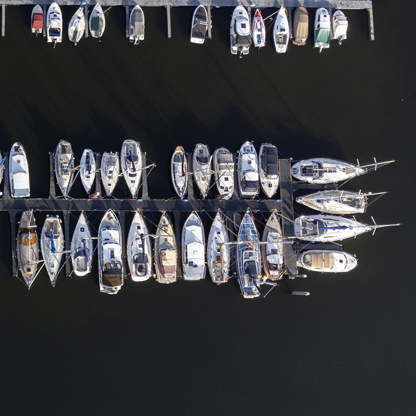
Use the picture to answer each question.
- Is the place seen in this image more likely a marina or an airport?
marina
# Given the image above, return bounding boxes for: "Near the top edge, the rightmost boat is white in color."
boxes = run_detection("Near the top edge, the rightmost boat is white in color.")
[330,9,349,42]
